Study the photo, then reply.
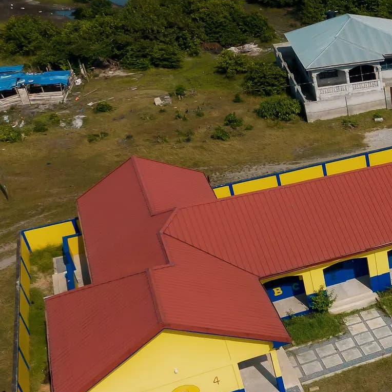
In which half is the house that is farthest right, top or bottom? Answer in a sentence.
Seen from above, the house that is farthest right lies in the top half of the view.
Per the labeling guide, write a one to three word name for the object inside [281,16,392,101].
house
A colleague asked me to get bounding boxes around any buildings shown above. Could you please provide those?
[0,64,74,110]
[46,159,392,392]
[281,16,392,101]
